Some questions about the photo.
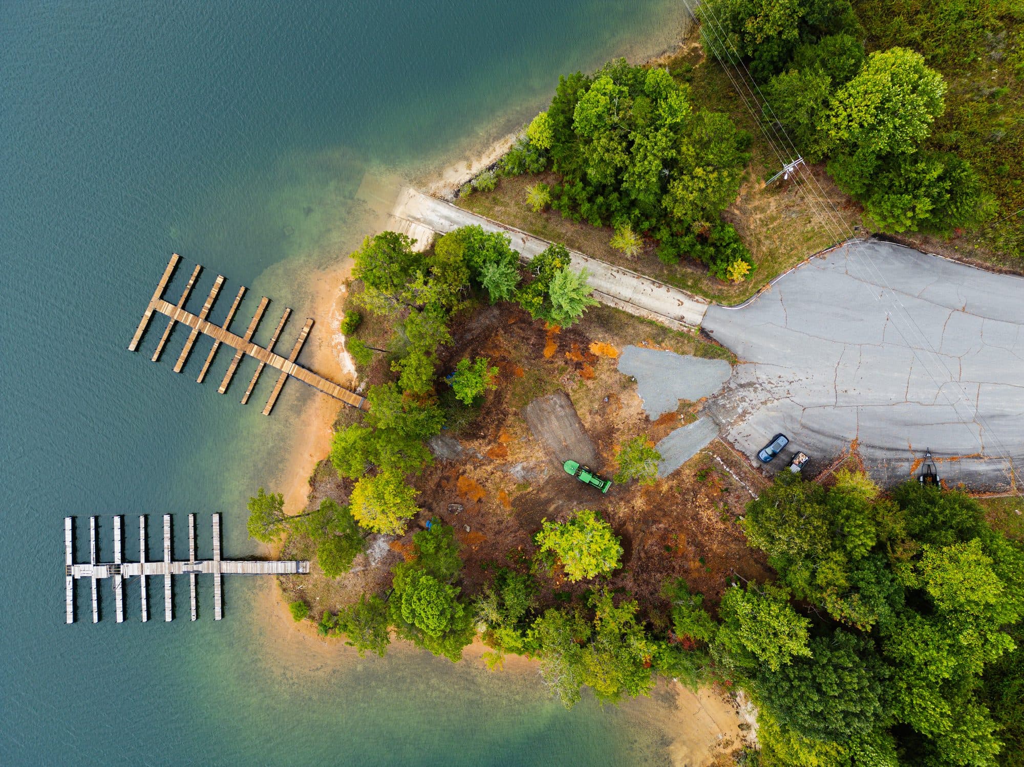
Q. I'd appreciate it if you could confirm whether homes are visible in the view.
No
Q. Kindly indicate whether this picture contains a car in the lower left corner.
No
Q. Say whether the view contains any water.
Yes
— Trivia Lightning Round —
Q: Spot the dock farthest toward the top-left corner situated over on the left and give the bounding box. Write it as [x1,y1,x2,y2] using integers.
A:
[125,253,370,416]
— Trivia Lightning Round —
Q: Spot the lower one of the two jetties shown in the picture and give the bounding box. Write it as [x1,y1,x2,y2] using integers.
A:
[62,513,309,624]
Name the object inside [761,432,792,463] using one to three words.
car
